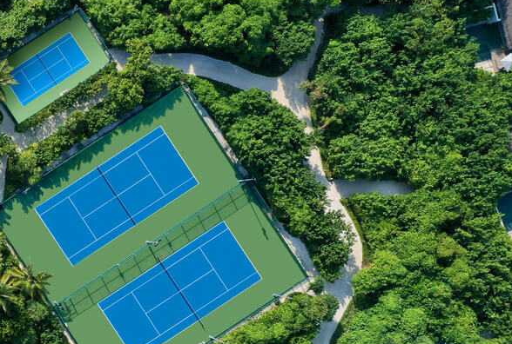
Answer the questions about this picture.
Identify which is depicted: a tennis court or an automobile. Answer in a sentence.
There is a tennis court in the scene.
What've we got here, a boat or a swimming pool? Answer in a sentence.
This aerial view contains a swimming pool.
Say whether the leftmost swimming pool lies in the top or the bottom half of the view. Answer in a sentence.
It is in the top half that the leftmost swimming pool appears.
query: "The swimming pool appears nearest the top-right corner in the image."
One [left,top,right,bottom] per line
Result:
[467,15,505,64]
